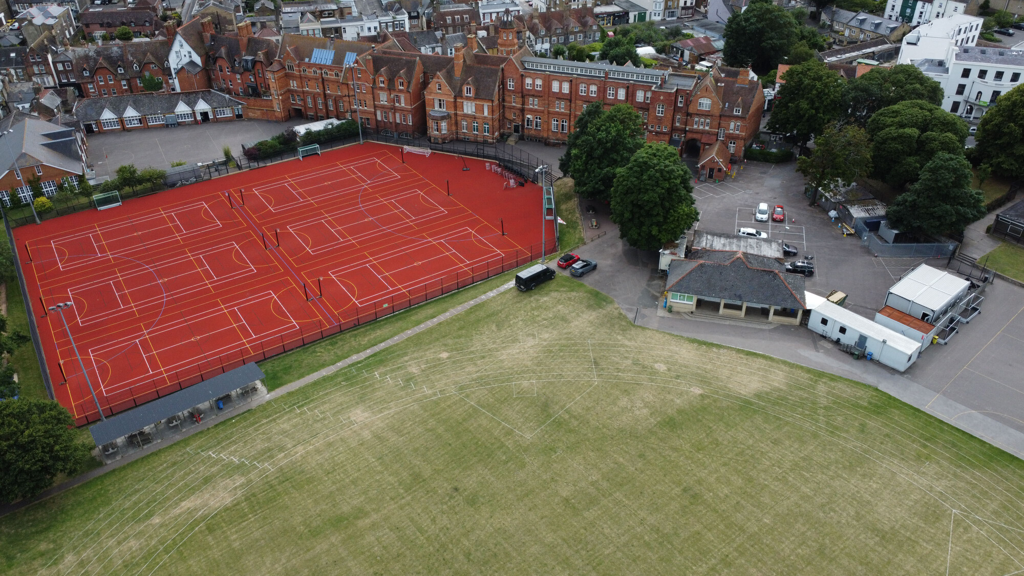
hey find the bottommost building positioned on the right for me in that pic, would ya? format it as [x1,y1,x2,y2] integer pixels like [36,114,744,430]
[808,302,924,370]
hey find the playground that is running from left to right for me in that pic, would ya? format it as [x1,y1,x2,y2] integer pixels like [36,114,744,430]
[85,118,377,192]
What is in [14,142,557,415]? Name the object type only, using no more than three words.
sports court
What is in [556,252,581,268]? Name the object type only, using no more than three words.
car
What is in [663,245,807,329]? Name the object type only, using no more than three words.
building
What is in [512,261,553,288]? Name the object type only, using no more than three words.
vehicle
